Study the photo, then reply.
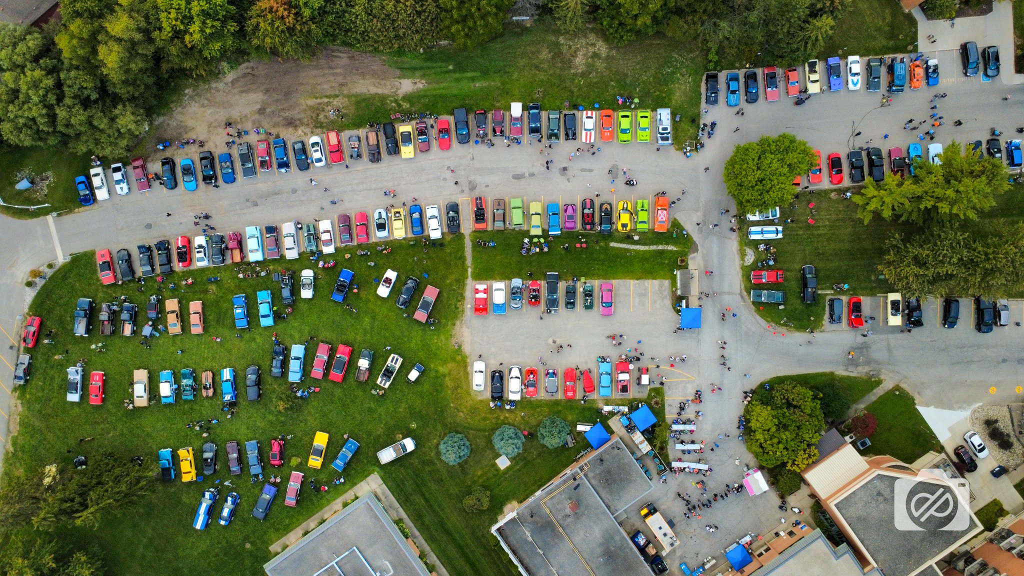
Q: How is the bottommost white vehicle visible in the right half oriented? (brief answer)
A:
on a diagonal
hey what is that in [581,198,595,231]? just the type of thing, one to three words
car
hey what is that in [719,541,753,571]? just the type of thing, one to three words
tent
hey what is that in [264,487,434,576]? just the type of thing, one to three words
building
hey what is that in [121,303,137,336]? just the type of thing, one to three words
vehicle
